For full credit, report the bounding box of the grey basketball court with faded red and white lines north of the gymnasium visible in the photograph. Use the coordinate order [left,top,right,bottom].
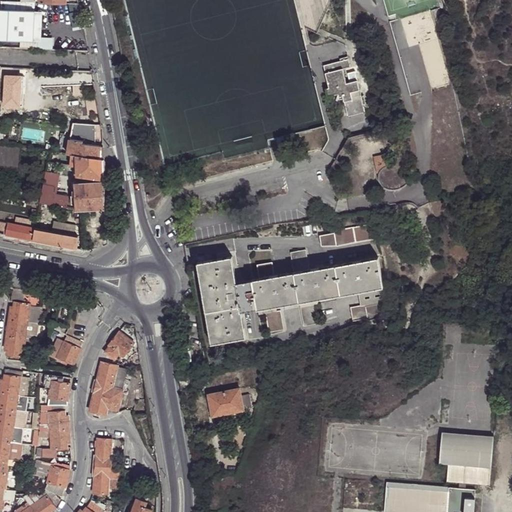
[452,348,492,426]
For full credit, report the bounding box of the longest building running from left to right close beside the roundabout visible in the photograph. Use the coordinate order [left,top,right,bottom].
[196,259,383,346]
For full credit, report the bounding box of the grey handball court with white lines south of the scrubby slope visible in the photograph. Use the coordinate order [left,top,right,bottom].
[316,412,428,484]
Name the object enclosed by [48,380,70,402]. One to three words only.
house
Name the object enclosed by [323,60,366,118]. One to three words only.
building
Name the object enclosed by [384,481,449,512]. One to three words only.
building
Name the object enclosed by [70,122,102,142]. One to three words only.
house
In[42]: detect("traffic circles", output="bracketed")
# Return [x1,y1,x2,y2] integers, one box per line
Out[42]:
[119,256,182,319]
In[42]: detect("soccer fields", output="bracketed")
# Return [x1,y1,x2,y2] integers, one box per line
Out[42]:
[126,0,324,158]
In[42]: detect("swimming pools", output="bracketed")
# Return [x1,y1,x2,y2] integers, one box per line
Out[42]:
[20,127,48,144]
